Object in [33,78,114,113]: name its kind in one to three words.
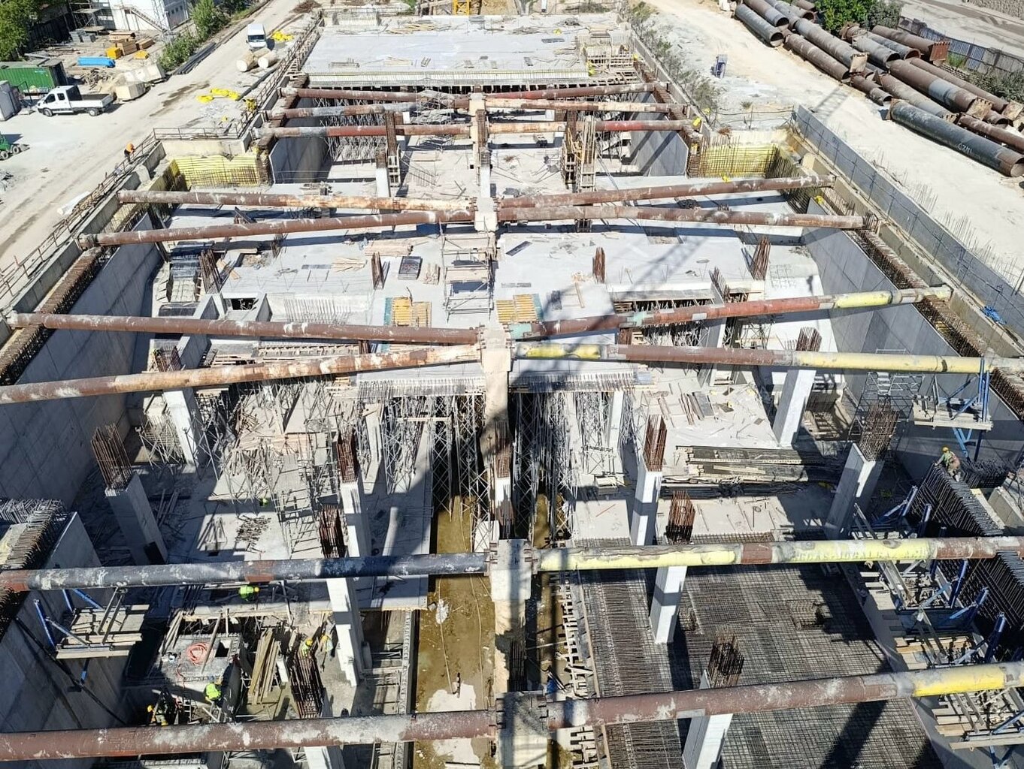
truck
